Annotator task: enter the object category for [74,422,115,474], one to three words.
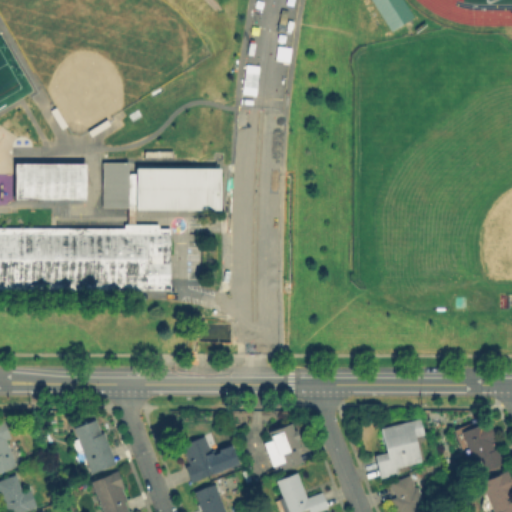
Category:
house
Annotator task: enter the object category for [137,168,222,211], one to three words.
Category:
building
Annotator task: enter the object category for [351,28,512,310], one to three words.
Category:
baseball field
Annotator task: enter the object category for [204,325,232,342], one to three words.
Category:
building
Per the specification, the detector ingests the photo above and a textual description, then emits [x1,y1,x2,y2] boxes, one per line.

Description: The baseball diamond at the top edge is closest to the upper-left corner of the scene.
[0,0,210,134]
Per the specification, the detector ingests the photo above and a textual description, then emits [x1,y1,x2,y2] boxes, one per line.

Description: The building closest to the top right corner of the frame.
[375,0,415,31]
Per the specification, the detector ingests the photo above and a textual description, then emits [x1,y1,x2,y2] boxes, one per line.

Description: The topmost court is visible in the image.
[0,35,33,110]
